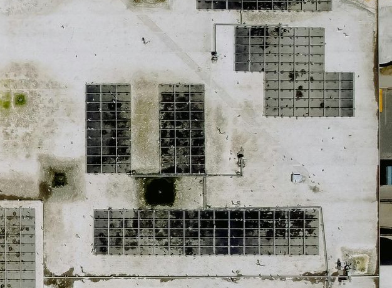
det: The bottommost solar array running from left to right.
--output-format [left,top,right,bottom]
[93,207,322,255]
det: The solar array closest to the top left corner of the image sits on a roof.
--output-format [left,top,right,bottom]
[86,82,133,173]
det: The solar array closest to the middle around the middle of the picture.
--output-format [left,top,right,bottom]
[158,82,205,173]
